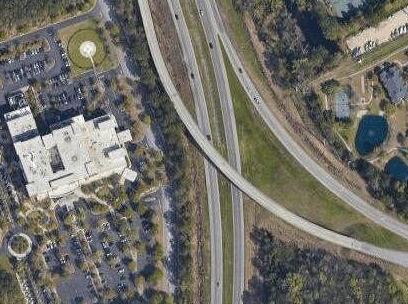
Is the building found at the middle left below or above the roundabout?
above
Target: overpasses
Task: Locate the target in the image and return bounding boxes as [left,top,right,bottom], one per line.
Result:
[138,0,398,262]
